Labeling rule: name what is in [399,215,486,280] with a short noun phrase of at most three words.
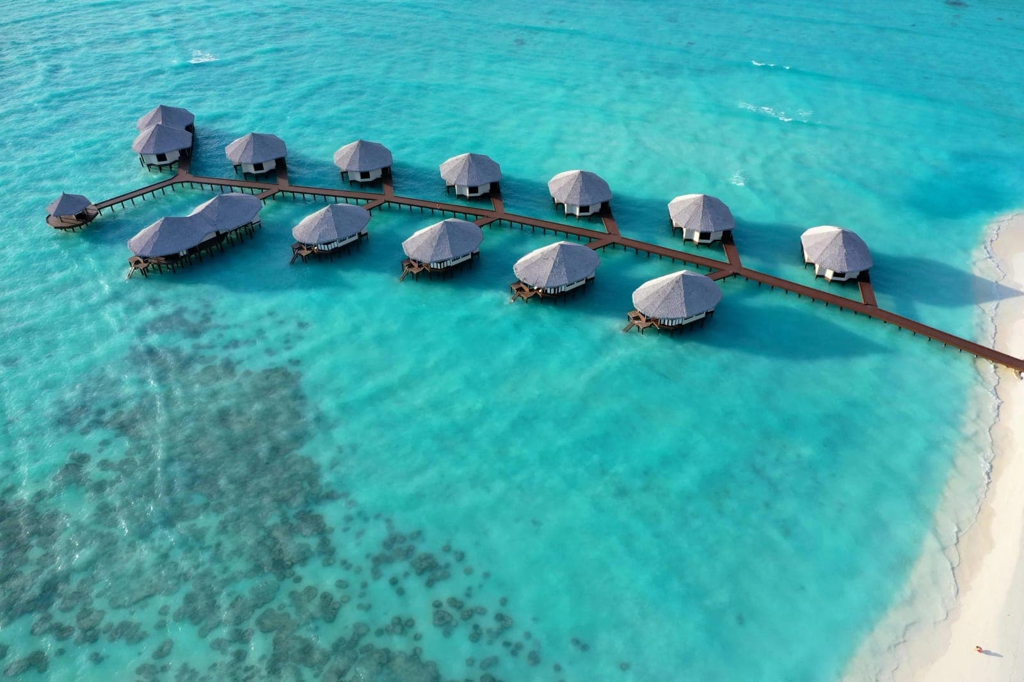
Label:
house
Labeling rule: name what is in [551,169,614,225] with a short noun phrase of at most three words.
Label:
house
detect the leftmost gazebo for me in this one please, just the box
[46,189,102,235]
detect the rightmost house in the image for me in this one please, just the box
[797,226,877,290]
